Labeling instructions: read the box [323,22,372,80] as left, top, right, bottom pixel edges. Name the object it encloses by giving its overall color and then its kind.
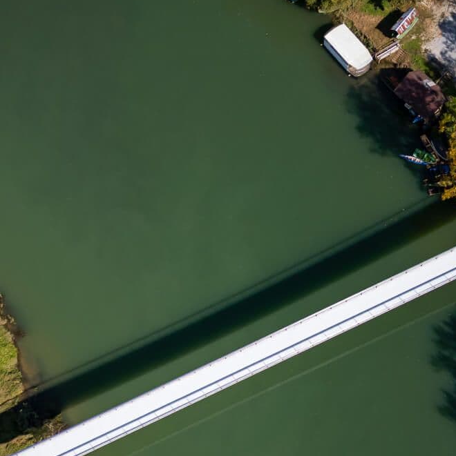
white boat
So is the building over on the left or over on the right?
right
